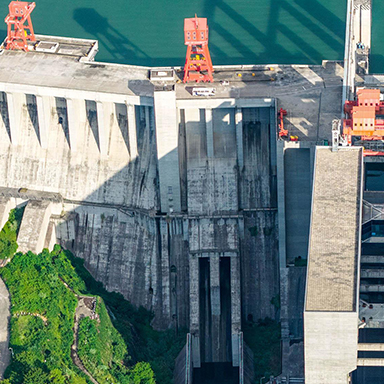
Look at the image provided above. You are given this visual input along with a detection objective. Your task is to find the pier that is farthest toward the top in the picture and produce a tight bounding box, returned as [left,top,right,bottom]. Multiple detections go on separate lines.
[354,0,372,51]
